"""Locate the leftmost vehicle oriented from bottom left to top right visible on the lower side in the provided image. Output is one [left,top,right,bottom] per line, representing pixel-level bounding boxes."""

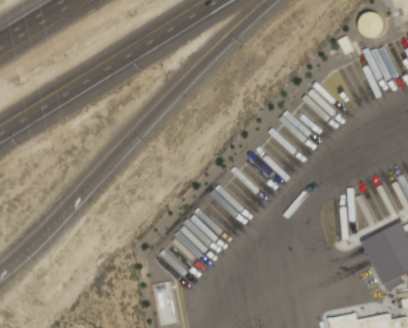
[282,184,316,218]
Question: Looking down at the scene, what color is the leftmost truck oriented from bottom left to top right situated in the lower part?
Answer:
white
